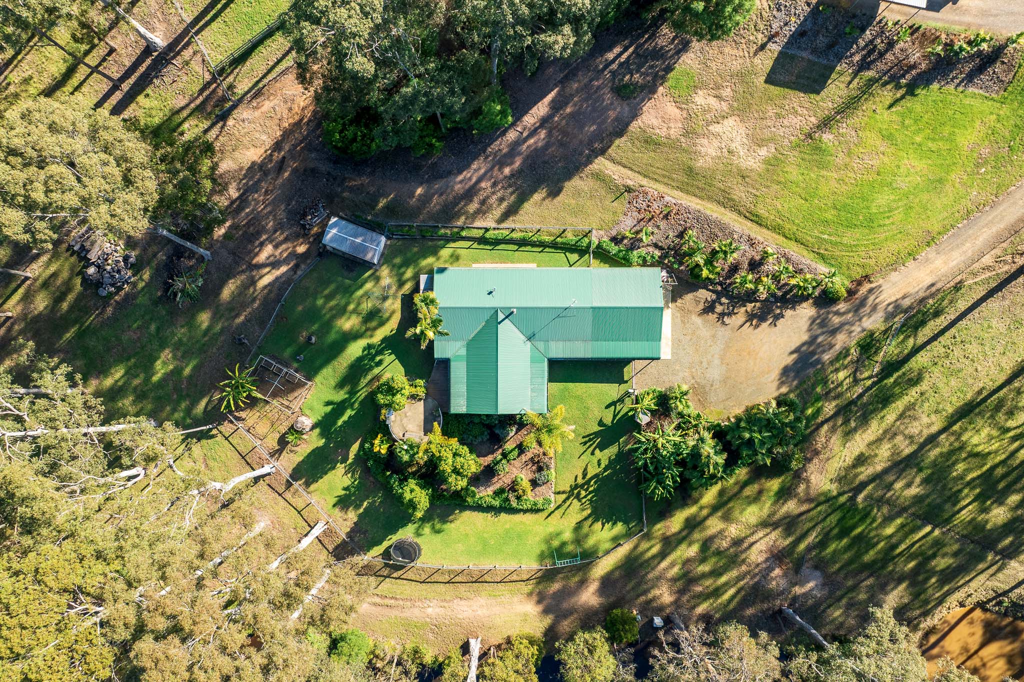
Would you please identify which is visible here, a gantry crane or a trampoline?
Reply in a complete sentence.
Of the two, only a trampoline appears.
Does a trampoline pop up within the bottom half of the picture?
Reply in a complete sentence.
Yes, the scene does show a trampoline within the bottom half of the picture.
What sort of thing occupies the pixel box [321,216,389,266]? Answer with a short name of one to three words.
shed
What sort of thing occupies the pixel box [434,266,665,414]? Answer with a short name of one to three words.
house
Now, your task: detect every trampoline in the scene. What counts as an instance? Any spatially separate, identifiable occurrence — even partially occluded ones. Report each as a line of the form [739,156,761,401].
[390,533,425,570]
